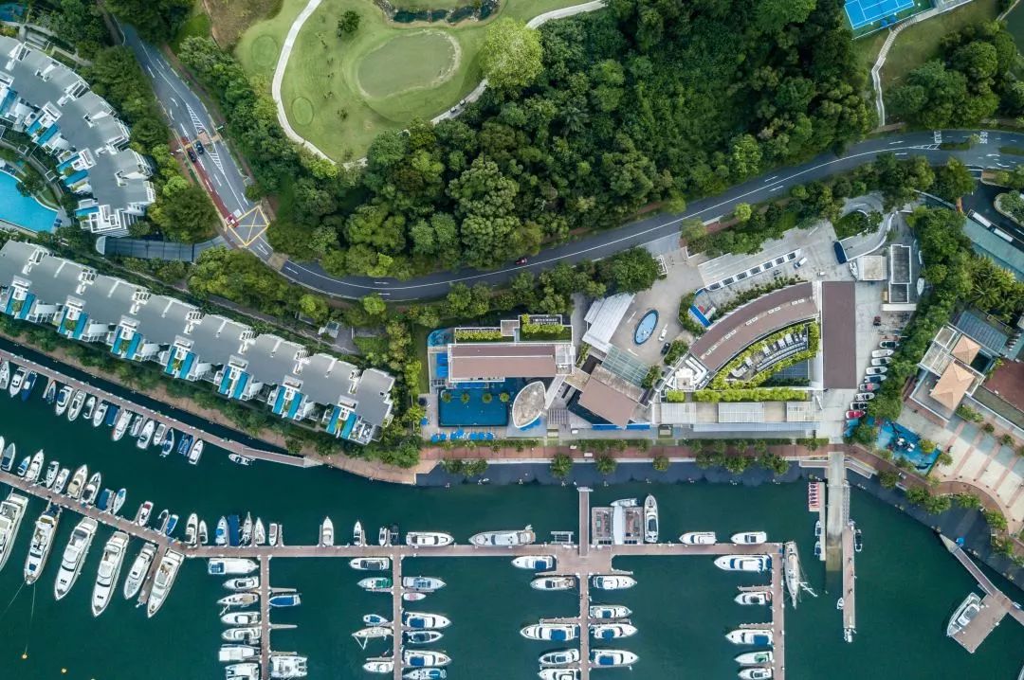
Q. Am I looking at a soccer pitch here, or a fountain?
fountain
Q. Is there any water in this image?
Yes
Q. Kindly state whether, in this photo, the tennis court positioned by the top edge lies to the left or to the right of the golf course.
on the right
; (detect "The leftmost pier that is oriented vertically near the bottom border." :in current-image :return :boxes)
[261,557,298,680]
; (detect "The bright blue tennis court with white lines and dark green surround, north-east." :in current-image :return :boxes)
[838,0,931,41]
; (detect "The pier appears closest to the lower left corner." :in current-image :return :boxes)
[0,470,186,603]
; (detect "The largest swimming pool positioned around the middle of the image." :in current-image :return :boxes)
[438,378,539,428]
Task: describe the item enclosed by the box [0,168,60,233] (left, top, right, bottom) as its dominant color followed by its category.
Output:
blue swimming pool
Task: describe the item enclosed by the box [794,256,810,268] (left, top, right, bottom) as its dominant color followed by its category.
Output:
white vehicle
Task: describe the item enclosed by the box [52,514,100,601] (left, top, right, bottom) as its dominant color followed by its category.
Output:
white boat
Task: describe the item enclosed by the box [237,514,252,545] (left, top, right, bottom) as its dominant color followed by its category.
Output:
white boat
